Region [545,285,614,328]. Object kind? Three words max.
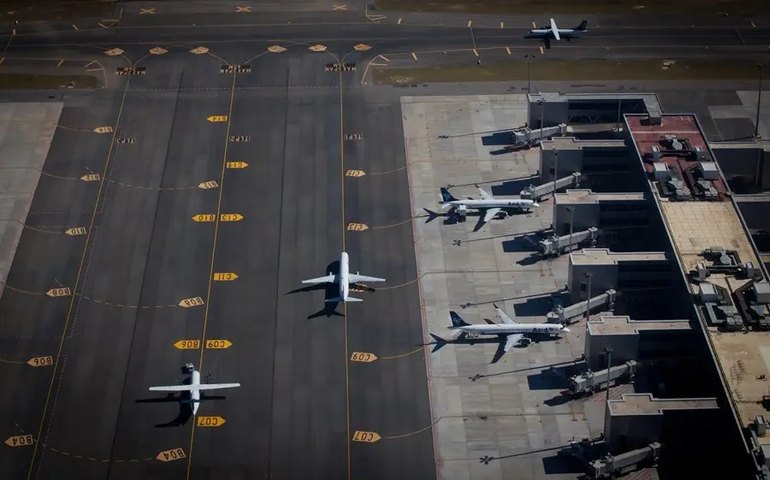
jet bridge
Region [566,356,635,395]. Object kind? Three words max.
jet bridge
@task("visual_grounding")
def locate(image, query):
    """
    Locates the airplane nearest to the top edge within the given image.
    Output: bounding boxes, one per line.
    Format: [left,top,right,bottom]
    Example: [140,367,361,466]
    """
[528,17,590,38]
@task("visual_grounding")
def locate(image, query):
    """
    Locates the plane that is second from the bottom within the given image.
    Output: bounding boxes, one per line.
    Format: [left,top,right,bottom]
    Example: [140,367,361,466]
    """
[448,304,569,349]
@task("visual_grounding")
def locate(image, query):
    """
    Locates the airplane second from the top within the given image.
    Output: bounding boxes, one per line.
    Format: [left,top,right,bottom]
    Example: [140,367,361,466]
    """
[438,183,539,219]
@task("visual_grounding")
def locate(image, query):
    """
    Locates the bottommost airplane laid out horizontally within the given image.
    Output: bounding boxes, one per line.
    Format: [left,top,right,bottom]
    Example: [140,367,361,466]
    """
[150,372,241,413]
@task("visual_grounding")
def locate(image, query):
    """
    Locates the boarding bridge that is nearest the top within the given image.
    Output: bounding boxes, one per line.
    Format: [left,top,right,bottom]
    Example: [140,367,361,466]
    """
[508,120,565,147]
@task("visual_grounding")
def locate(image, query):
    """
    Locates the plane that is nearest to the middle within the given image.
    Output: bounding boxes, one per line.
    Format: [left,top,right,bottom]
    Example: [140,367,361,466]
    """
[301,253,388,302]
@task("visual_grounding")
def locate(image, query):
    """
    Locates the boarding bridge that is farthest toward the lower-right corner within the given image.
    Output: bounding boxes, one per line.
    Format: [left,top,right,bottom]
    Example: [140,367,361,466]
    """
[585,438,659,479]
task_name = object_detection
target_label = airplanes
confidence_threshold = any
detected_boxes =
[301,253,388,302]
[448,304,569,349]
[150,372,241,413]
[438,183,539,219]
[528,17,590,38]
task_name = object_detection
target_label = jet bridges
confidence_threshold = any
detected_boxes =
[508,120,565,147]
[534,223,596,258]
[519,169,580,204]
[585,438,659,479]
[566,356,635,395]
[545,285,614,328]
